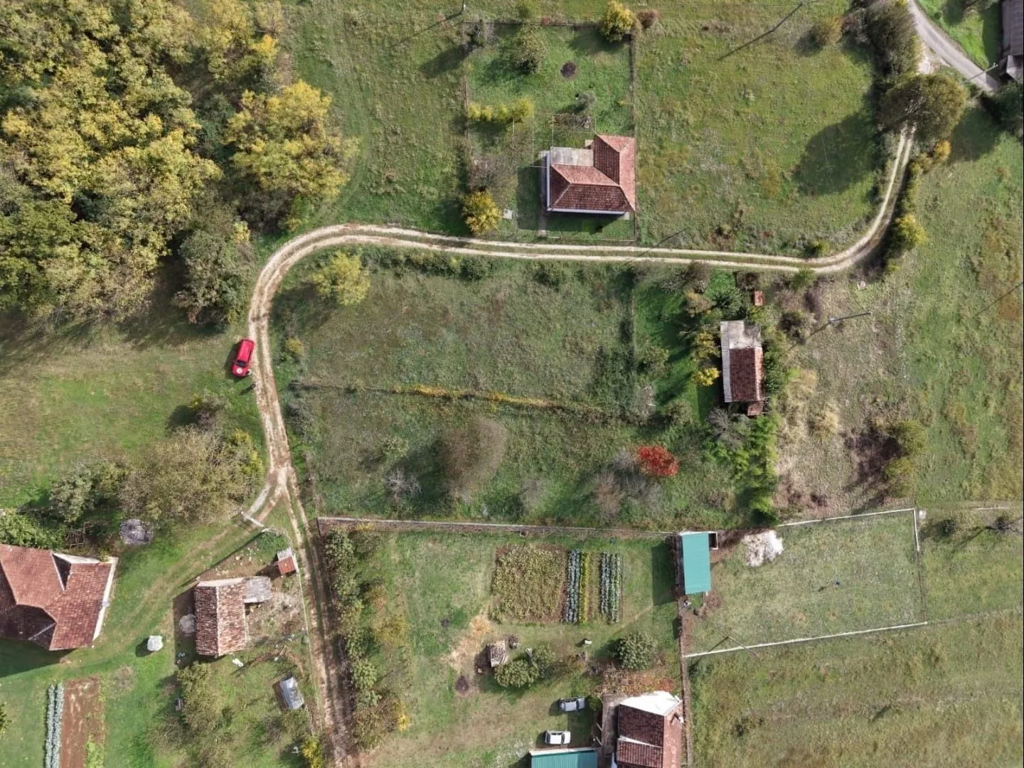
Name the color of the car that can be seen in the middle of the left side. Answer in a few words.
red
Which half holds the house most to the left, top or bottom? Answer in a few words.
bottom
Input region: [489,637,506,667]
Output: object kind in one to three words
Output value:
shed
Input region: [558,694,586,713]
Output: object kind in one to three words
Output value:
car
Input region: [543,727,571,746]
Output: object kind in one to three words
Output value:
car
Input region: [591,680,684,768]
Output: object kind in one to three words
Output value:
house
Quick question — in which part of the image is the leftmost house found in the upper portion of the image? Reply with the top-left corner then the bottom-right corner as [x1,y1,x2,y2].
[547,134,636,221]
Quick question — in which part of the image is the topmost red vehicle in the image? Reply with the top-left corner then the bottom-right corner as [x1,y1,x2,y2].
[231,338,256,379]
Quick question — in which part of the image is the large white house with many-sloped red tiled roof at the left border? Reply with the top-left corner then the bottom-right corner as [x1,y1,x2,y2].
[0,544,117,652]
